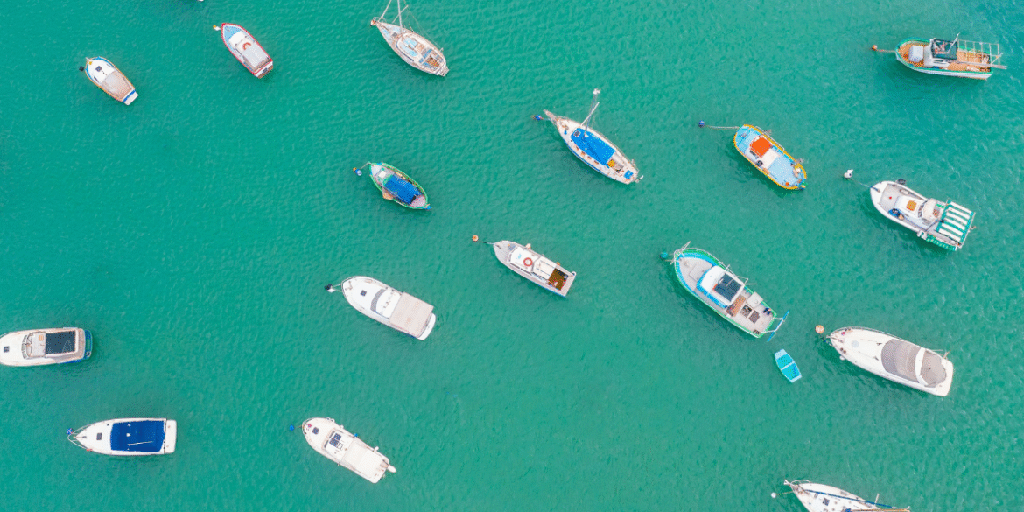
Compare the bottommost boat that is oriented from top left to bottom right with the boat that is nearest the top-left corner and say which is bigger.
the bottommost boat that is oriented from top left to bottom right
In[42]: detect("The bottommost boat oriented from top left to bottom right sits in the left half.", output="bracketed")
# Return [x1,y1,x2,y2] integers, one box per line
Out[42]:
[298,417,396,482]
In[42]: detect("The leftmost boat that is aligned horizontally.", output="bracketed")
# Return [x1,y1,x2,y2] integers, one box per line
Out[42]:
[0,327,95,367]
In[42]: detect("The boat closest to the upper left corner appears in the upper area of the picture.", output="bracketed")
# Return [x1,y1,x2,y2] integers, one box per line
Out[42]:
[83,56,138,104]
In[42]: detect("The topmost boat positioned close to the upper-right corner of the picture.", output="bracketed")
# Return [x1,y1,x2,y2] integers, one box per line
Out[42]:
[893,29,1007,79]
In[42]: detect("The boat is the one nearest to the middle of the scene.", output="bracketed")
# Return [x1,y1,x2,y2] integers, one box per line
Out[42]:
[493,240,576,298]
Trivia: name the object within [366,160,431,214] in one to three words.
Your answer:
boat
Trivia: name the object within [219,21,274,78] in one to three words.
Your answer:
boat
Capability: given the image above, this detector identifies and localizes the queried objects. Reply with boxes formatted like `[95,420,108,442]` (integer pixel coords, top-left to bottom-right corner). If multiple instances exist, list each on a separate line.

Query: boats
[866,182,975,250]
[63,418,178,455]
[673,240,789,341]
[0,327,95,367]
[784,479,912,512]
[493,240,576,298]
[219,21,274,78]
[83,56,138,104]
[544,90,645,188]
[734,126,805,194]
[298,417,396,482]
[775,350,802,382]
[374,0,449,78]
[893,29,1007,79]
[366,160,431,214]
[336,273,437,339]
[829,325,952,397]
